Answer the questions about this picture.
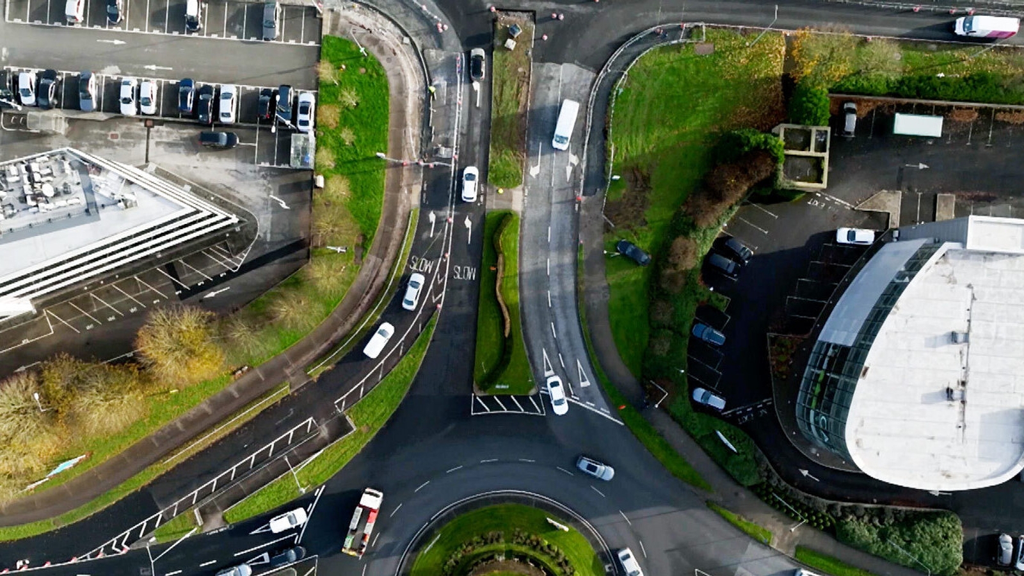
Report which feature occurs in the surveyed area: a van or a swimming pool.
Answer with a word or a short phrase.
van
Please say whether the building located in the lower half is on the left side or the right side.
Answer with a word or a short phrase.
right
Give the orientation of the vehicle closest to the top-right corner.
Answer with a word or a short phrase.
from left to right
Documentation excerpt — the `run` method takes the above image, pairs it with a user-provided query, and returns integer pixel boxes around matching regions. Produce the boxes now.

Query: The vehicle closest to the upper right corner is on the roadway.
[956,16,1022,40]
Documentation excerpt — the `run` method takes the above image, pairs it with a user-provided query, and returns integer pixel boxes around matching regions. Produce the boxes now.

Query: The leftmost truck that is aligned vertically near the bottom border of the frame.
[343,490,381,565]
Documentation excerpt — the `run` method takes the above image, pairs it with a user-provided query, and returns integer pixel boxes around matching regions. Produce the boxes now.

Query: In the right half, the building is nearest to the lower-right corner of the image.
[797,216,1024,491]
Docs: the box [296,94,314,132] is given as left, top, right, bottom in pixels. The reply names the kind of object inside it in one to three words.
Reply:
car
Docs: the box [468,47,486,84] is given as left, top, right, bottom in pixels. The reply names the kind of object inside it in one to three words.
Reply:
car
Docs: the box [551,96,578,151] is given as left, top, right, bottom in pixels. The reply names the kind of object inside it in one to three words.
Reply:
vehicle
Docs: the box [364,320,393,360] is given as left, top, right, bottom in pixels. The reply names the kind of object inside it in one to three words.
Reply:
van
